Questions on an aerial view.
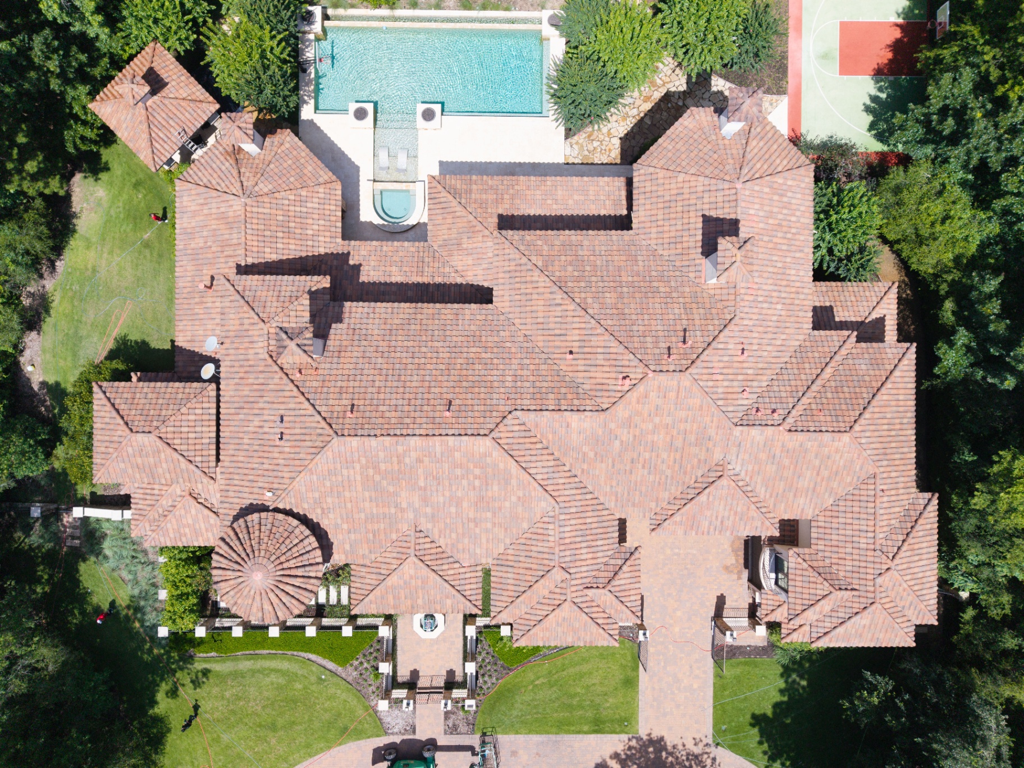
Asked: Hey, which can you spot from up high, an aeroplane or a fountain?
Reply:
fountain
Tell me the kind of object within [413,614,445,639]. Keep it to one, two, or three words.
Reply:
fountain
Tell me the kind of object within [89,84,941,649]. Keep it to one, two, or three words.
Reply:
house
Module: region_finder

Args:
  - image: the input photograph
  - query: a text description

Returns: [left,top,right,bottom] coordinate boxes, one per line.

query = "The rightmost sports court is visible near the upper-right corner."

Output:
[802,0,928,151]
